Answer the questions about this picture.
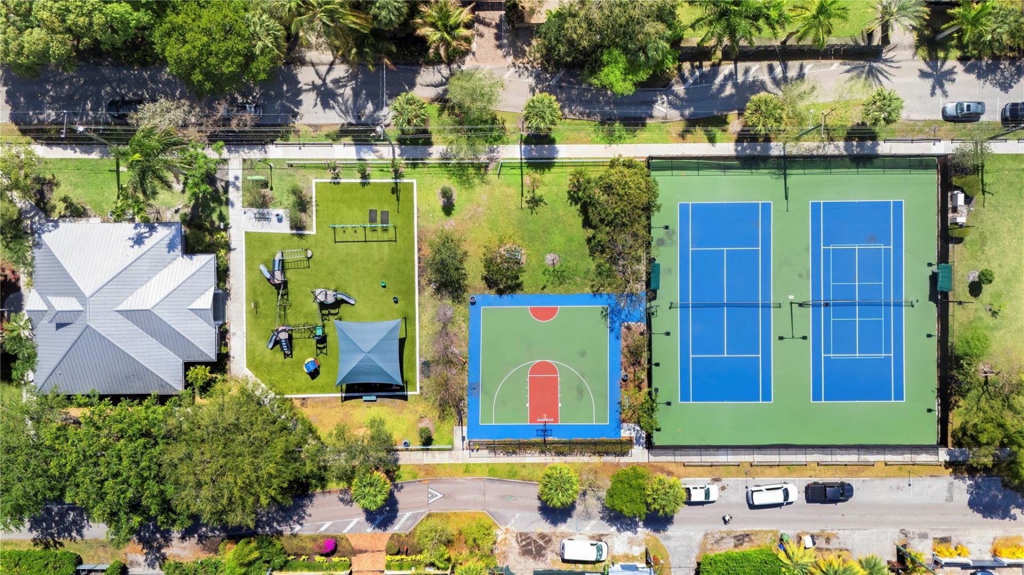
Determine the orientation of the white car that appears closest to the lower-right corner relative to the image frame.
from side to side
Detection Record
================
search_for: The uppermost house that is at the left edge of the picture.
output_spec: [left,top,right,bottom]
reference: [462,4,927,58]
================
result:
[25,222,226,395]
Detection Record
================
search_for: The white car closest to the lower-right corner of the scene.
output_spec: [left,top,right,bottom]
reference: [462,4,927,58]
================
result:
[746,483,795,505]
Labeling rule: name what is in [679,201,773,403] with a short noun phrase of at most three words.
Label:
tennis court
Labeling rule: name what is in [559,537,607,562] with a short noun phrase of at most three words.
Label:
vehicle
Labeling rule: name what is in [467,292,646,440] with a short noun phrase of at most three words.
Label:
basketball court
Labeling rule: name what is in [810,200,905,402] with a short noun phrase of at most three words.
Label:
tennis court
